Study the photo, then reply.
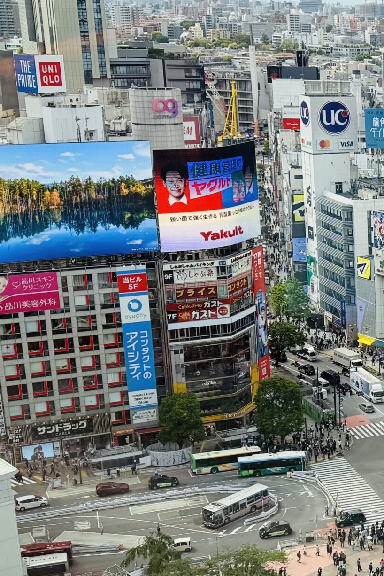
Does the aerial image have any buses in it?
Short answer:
Yes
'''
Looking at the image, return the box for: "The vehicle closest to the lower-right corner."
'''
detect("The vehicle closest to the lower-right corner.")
[332,508,368,529]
